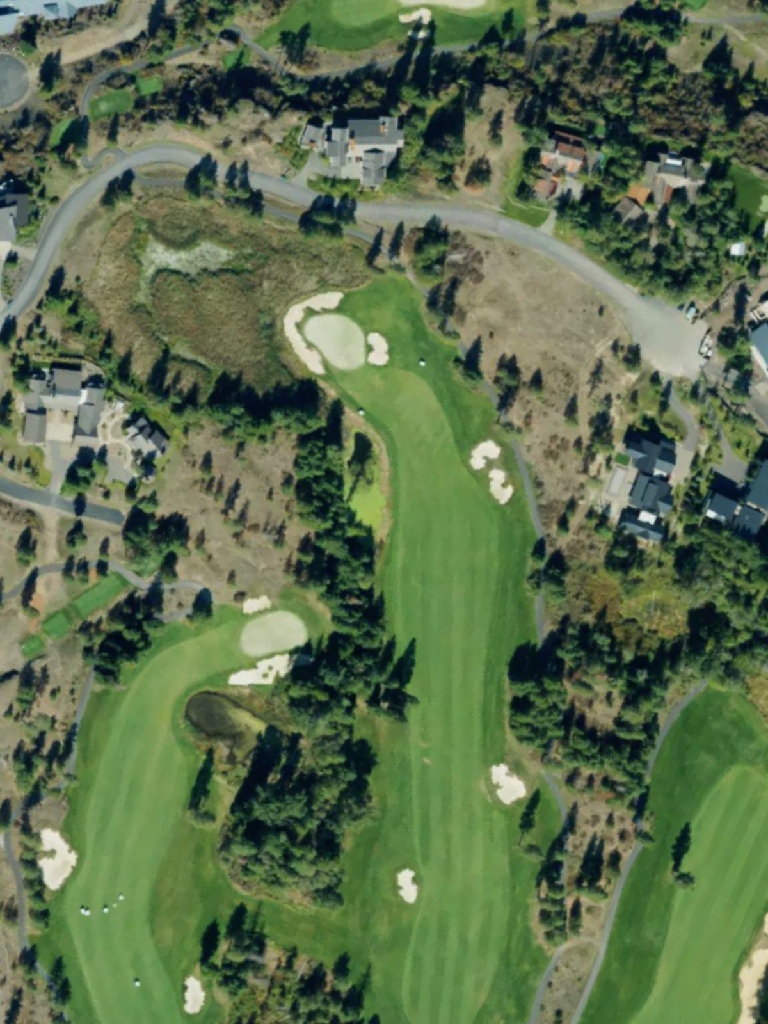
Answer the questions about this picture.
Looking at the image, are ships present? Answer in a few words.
No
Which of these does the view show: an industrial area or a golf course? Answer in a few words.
golf course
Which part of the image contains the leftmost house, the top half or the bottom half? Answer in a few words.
top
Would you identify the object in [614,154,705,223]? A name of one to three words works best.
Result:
house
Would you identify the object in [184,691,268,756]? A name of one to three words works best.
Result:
pond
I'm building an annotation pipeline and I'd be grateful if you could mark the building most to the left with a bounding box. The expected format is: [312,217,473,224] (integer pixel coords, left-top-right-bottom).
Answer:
[0,191,29,241]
